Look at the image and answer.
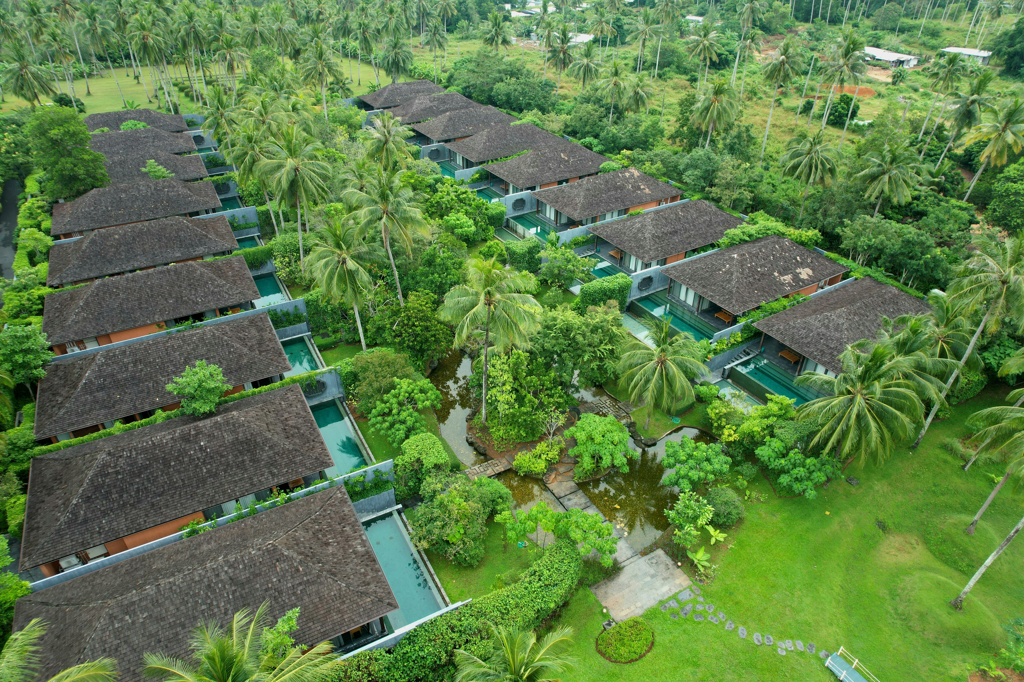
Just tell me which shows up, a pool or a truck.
pool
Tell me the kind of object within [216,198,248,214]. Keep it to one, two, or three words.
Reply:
swimming pool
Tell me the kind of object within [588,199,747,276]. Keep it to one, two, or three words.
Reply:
house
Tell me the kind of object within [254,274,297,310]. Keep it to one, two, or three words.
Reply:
swimming pool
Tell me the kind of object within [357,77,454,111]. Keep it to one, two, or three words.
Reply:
house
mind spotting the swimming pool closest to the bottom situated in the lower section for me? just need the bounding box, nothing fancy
[364,513,454,633]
